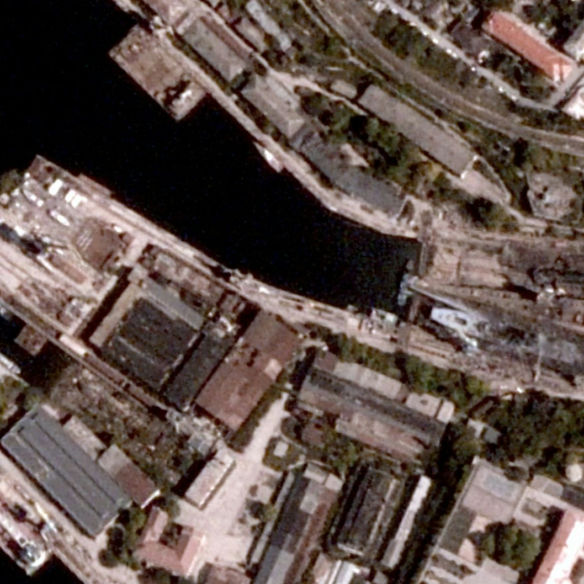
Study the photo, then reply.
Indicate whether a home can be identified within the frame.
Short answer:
Yes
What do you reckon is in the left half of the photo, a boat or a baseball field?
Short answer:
boat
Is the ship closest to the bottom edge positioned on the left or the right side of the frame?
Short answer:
left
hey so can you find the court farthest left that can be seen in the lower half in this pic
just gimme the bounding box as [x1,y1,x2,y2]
[481,472,518,500]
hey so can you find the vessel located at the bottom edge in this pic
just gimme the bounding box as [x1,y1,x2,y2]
[0,499,51,576]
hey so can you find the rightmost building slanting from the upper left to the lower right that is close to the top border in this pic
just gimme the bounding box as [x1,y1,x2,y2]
[485,11,576,82]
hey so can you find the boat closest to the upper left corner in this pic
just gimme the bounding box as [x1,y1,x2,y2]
[23,189,42,201]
